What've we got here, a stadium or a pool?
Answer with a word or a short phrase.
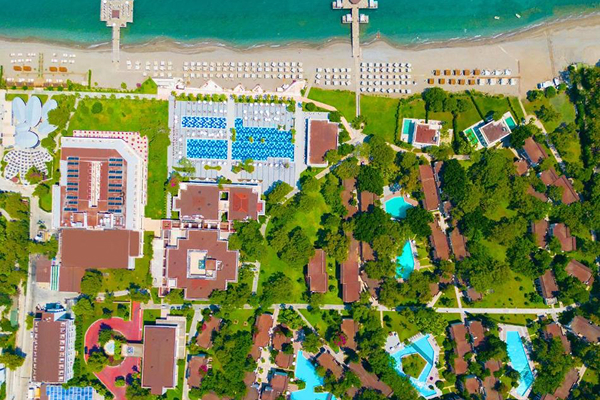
pool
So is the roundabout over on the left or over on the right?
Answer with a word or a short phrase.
left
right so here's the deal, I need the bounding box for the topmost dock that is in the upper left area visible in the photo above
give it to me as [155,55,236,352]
[100,0,134,62]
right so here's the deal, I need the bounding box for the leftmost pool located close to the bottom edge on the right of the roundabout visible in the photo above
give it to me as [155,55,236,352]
[291,353,325,400]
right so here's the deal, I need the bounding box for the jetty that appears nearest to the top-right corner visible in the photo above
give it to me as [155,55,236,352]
[333,0,378,57]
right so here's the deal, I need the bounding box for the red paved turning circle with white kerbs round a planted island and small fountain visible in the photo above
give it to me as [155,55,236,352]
[84,301,143,400]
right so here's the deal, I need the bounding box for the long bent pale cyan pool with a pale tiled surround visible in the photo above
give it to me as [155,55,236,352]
[506,330,535,398]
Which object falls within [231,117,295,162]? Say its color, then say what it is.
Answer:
blue swimming pool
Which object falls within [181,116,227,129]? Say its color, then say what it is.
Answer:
blue swimming pool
